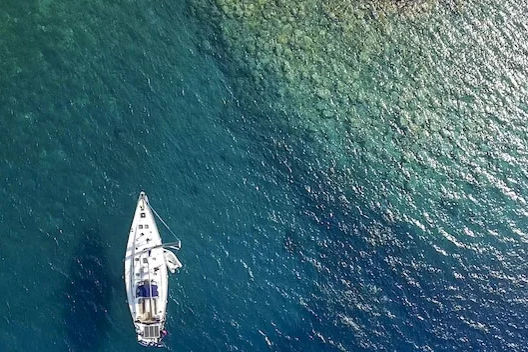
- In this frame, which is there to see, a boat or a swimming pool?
boat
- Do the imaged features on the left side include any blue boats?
No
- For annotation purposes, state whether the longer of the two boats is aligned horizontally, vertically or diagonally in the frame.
vertically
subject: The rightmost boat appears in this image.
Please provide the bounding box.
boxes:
[164,249,183,274]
